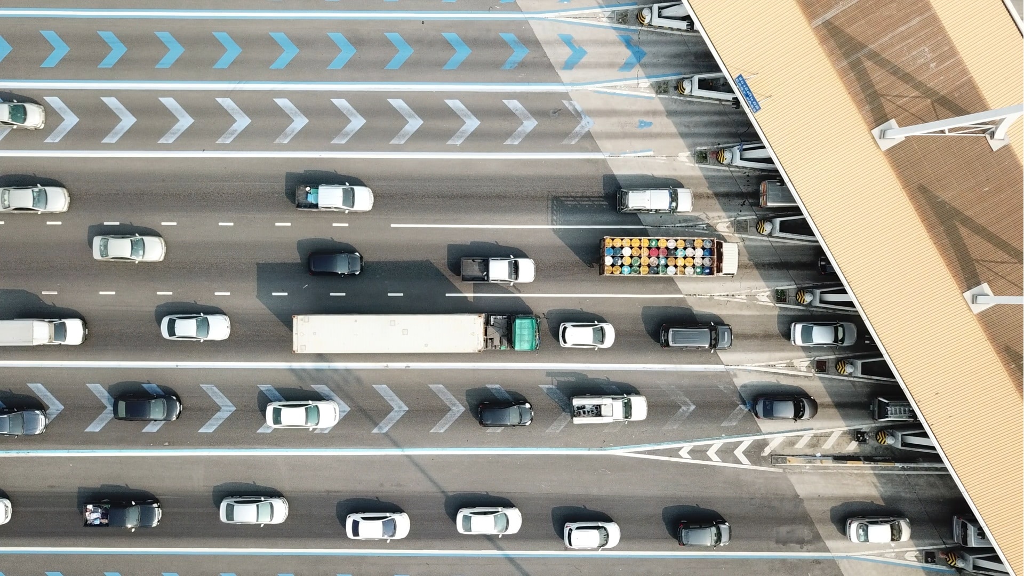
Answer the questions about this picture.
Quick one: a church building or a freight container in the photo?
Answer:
freight container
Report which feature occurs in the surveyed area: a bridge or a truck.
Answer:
truck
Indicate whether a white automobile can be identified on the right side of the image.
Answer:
Yes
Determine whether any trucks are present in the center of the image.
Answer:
Yes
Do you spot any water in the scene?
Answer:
No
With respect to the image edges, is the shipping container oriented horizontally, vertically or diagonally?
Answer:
horizontally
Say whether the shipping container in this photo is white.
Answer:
Yes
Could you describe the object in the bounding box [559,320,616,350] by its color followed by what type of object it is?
white car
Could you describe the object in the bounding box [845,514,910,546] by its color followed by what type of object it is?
white car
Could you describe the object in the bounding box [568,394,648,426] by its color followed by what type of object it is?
white truck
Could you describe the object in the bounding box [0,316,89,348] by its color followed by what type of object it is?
white truck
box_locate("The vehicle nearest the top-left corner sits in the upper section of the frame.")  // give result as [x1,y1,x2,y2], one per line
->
[0,99,48,131]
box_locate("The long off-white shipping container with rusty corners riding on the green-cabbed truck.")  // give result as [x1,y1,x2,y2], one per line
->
[293,313,485,353]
